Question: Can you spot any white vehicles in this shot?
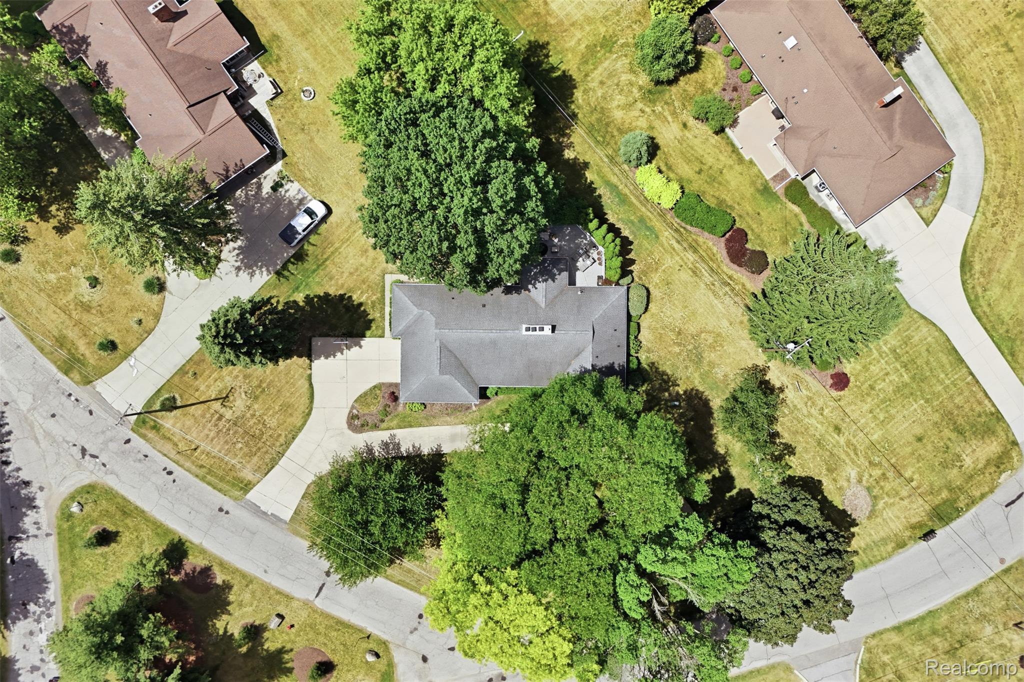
Yes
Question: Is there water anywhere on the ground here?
No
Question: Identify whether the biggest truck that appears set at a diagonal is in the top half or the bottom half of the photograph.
top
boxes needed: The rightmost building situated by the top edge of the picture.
[710,0,956,228]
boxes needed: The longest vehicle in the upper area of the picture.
[279,200,330,247]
